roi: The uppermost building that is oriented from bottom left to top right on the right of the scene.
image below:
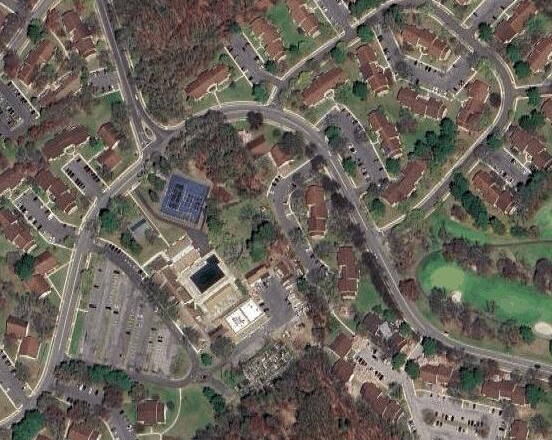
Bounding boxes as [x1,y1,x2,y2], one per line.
[492,4,538,45]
